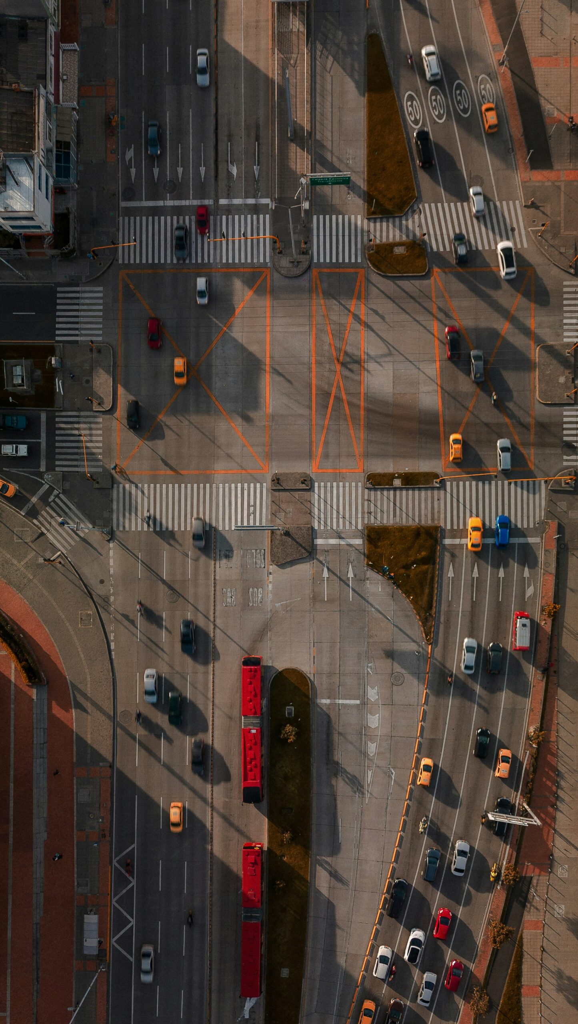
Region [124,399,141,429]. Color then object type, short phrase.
black car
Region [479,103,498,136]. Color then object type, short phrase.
orange car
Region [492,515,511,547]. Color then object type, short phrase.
blue car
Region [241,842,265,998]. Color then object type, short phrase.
red bus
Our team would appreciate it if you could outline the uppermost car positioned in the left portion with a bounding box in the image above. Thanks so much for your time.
[194,49,211,89]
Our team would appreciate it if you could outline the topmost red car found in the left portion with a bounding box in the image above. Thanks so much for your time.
[194,205,210,236]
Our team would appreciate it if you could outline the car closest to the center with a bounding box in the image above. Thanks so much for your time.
[192,517,207,549]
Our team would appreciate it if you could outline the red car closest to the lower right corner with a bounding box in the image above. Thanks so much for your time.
[442,956,465,992]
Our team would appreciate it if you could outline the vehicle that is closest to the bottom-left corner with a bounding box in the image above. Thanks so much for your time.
[139,941,155,981]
